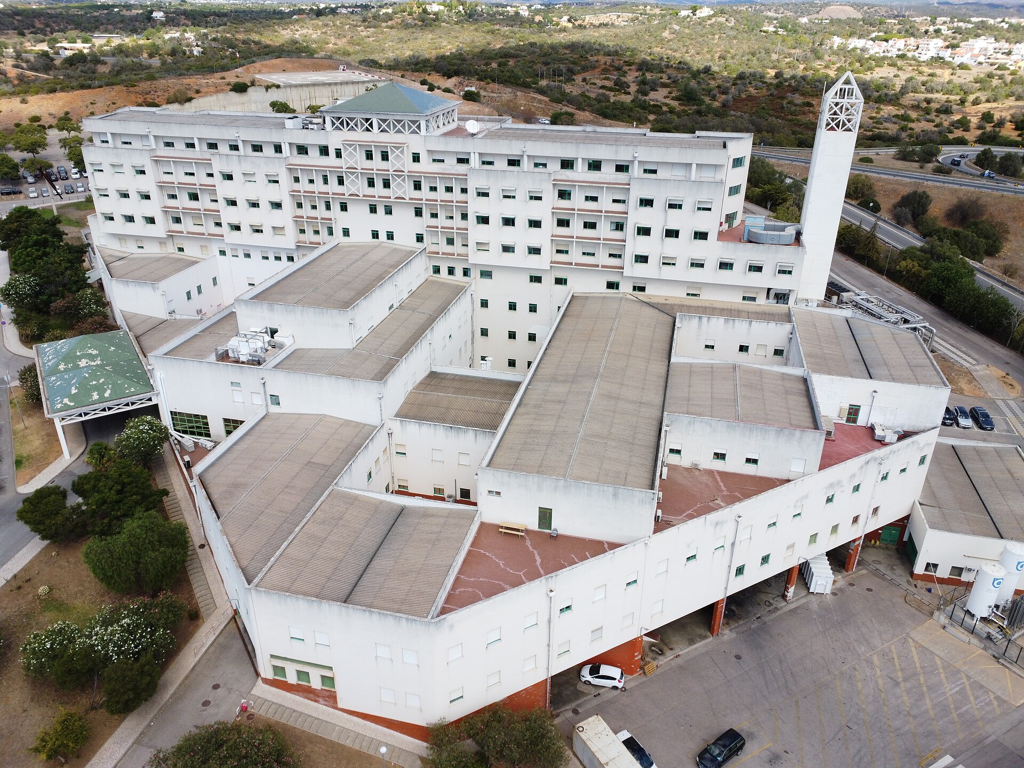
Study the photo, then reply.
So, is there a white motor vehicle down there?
Yes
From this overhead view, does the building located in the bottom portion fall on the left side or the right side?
right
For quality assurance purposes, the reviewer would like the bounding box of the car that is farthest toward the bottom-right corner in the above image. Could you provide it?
[695,721,748,768]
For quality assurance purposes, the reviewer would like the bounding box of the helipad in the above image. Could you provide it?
[255,70,396,87]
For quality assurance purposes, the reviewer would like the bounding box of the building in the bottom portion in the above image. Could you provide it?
[905,438,1024,588]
